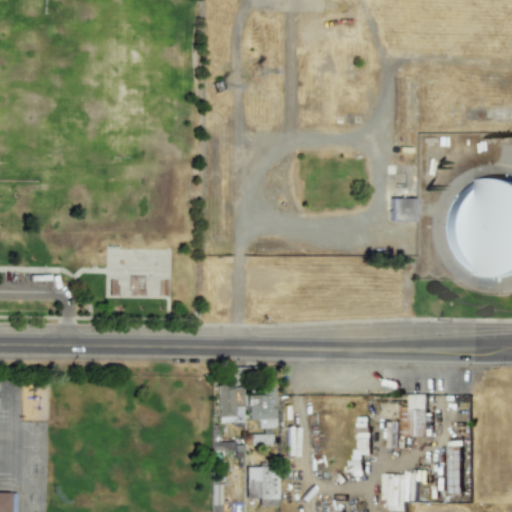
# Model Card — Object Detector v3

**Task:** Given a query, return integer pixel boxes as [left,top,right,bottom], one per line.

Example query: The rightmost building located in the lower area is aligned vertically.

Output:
[443,447,462,497]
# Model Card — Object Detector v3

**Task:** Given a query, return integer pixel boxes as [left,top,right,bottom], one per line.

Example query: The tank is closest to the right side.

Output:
[446,177,512,279]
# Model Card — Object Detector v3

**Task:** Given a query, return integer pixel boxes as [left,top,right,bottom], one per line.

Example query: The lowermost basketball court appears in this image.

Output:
[22,422,47,512]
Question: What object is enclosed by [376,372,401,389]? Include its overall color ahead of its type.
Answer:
white vehicle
